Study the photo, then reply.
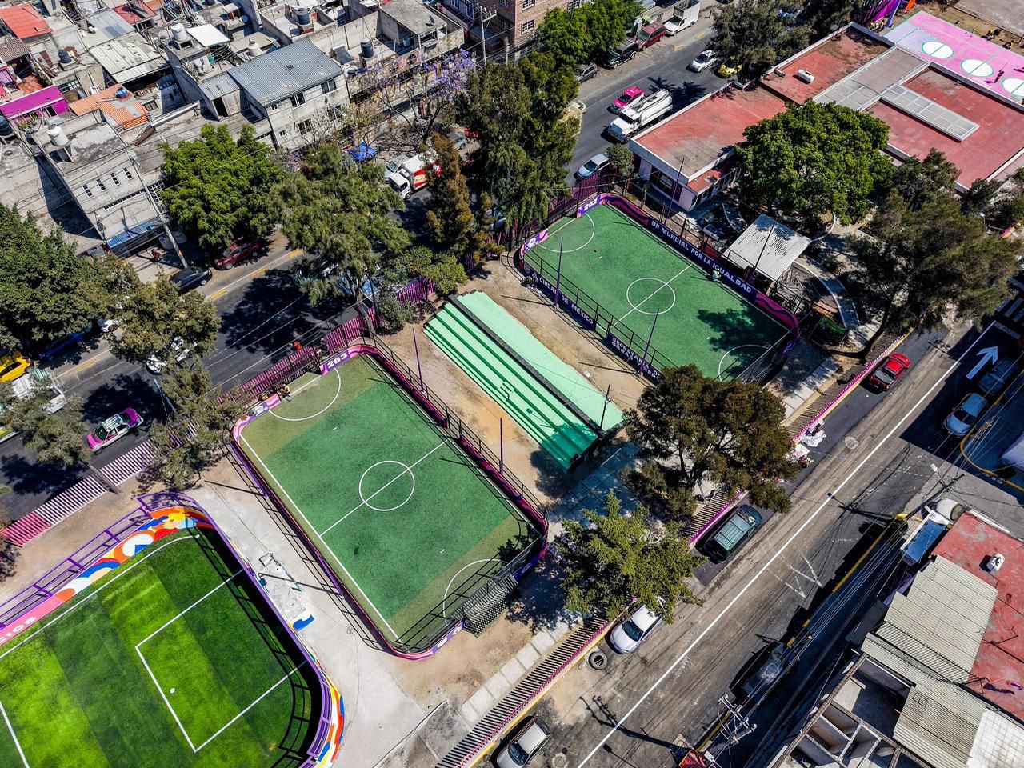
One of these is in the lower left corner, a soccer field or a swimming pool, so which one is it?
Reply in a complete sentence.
It is a soccer field that can be seen in the lower left corner.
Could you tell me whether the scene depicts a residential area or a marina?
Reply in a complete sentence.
This image shows a residential area.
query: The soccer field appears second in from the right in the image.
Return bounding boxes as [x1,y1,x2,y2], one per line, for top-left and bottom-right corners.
[236,351,551,660]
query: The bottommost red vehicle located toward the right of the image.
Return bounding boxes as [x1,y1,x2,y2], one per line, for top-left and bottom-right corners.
[866,351,913,394]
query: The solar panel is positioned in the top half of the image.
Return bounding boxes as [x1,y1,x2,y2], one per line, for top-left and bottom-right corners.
[326,40,351,64]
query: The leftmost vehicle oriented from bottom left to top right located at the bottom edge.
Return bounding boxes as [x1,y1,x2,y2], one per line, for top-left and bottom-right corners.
[487,711,553,768]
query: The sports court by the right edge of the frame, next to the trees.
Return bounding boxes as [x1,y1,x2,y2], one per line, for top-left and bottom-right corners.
[885,10,1024,105]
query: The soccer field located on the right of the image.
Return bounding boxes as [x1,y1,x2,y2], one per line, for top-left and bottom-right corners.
[518,197,793,400]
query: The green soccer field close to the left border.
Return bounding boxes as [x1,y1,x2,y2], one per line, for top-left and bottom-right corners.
[0,526,329,768]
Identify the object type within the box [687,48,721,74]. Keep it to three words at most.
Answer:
car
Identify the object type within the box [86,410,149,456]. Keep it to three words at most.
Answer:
car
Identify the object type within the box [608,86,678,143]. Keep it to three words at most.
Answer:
truck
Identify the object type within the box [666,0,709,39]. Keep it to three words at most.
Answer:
truck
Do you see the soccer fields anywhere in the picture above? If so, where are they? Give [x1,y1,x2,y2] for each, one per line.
[0,526,329,768]
[518,197,793,400]
[236,351,551,660]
